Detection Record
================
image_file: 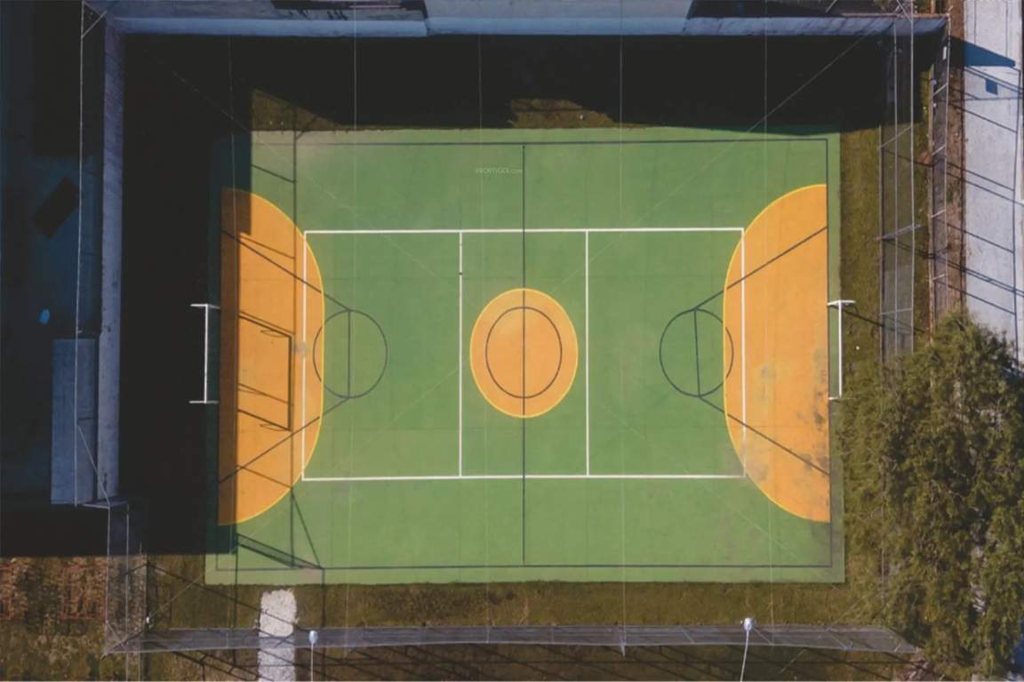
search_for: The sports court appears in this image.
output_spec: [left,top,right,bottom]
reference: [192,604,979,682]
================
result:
[206,124,845,584]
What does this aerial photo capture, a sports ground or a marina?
sports ground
